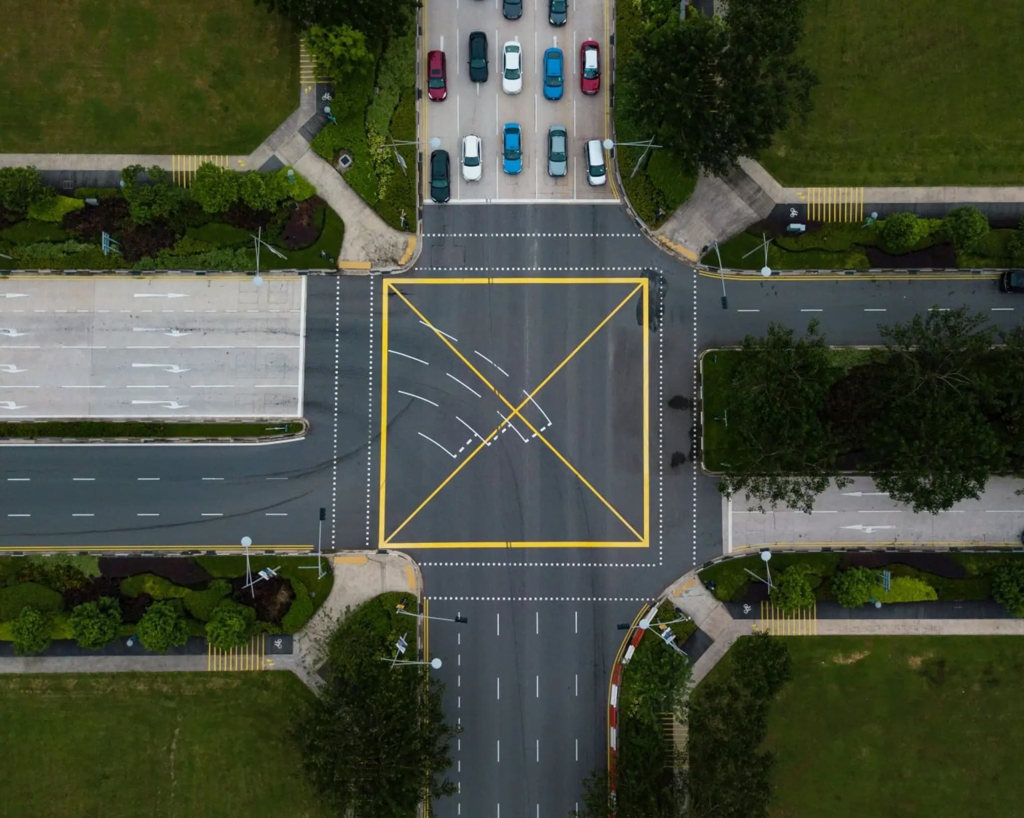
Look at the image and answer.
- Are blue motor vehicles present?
Yes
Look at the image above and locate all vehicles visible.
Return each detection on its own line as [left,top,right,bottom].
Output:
[460,131,483,180]
[578,39,602,93]
[425,48,449,100]
[501,120,524,174]
[502,0,523,19]
[546,122,570,176]
[466,27,490,81]
[541,45,566,98]
[427,148,452,201]
[1000,270,1024,292]
[546,0,569,26]
[500,40,524,94]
